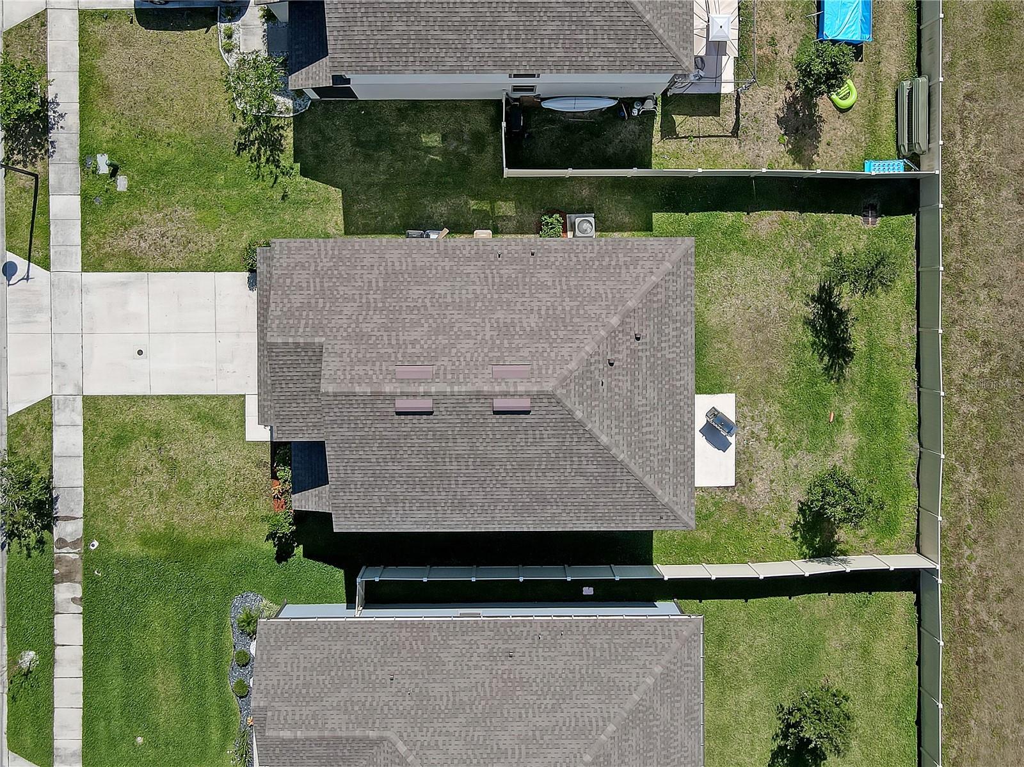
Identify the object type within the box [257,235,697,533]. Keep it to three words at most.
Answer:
house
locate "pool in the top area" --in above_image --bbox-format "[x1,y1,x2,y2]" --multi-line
[803,0,872,51]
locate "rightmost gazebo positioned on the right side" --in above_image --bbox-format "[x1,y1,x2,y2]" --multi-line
[664,0,756,97]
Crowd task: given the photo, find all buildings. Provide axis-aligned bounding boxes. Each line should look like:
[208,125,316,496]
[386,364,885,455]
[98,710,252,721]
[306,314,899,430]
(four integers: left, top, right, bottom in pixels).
[257,235,697,533]
[251,599,708,767]
[255,0,694,101]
